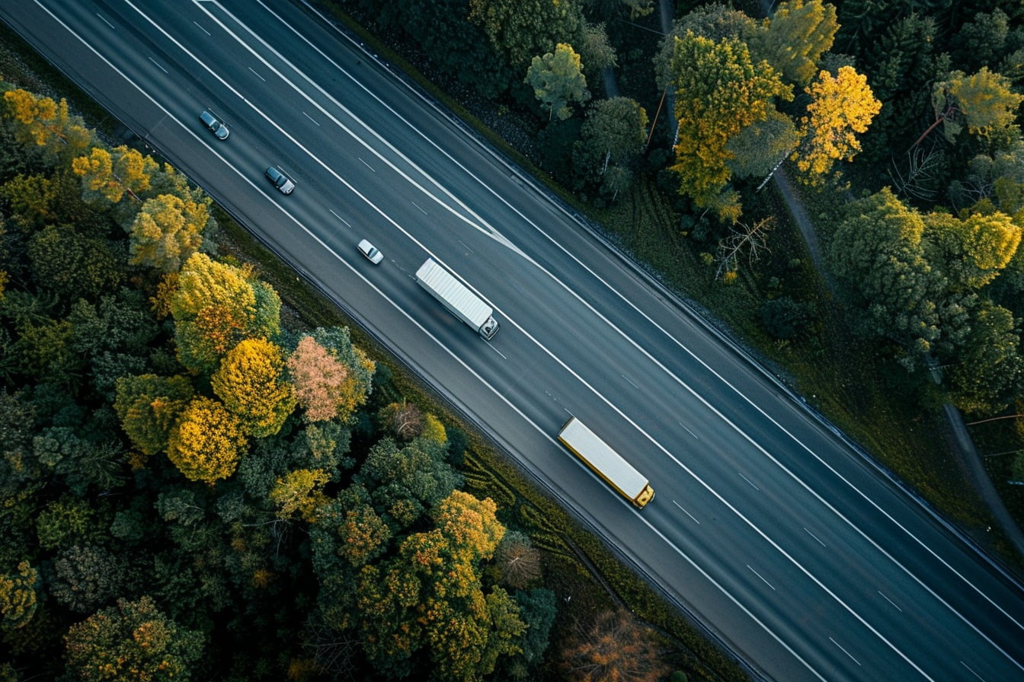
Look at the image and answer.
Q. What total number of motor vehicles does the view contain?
5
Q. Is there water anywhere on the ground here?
No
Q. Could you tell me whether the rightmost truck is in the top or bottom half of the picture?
bottom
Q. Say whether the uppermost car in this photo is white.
No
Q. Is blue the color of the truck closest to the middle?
No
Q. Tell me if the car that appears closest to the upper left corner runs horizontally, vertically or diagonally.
diagonally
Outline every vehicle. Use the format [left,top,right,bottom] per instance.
[262,164,299,197]
[556,417,660,512]
[196,109,234,143]
[416,258,507,342]
[352,235,388,268]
